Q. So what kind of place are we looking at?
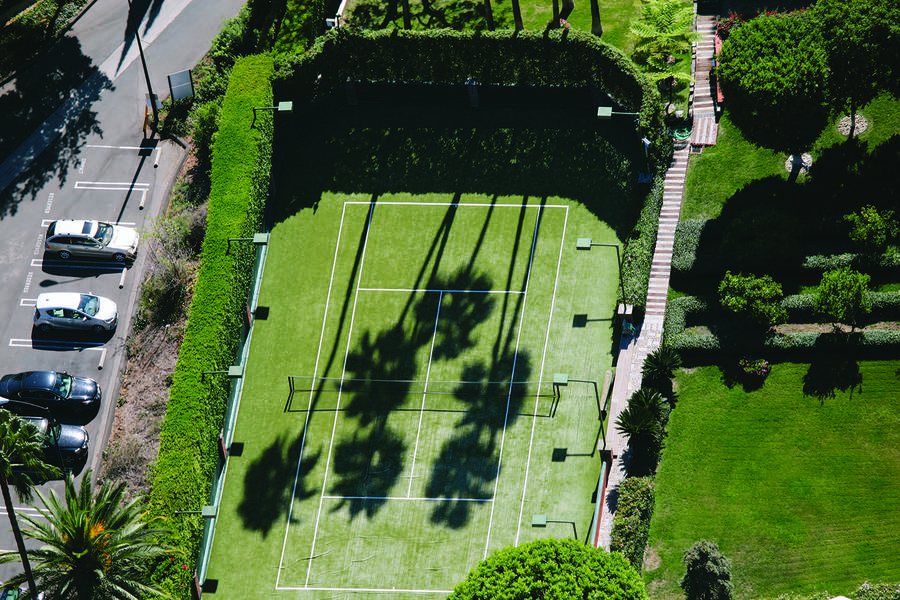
sports ground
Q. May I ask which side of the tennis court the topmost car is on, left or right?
on the left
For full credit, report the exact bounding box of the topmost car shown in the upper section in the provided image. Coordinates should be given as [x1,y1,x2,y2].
[44,216,142,261]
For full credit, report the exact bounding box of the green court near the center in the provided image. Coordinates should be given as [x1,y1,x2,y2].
[204,102,635,600]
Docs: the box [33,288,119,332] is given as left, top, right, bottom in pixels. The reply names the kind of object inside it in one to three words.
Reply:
car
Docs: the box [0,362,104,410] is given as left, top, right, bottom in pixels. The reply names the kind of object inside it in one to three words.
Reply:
car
